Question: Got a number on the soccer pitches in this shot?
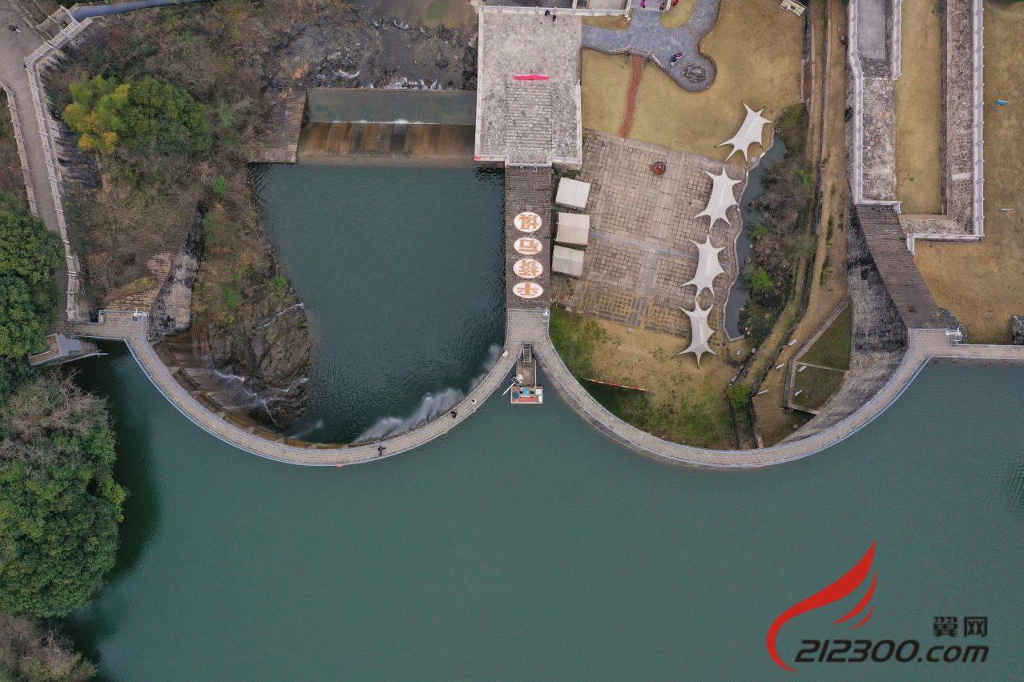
0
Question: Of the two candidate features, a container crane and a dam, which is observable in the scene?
dam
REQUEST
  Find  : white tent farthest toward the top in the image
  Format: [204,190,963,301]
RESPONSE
[555,177,590,210]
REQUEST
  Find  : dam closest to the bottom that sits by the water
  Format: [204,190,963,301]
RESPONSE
[66,166,1024,469]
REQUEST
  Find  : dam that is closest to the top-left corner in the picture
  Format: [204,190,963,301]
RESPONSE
[250,84,477,165]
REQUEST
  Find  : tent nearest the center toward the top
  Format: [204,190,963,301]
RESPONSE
[552,245,584,278]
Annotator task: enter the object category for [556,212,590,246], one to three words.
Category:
tent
